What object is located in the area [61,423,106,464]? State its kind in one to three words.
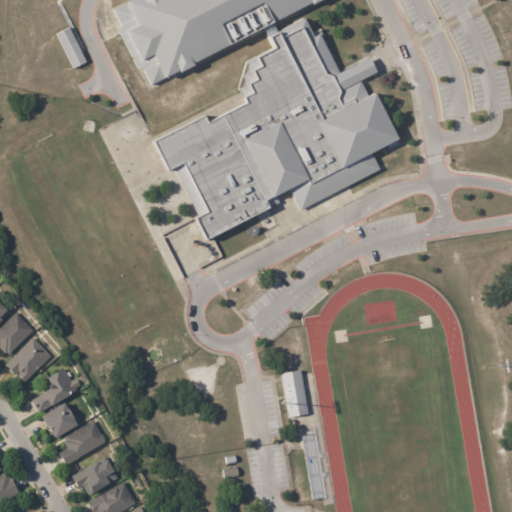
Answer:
house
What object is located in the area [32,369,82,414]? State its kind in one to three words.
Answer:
house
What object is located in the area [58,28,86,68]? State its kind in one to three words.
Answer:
shed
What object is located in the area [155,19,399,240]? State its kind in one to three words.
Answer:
building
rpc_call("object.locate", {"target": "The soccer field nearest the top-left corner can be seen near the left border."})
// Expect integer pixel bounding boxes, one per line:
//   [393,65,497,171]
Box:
[20,128,170,346]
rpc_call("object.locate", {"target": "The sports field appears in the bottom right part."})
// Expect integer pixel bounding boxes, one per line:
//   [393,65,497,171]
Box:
[326,288,475,512]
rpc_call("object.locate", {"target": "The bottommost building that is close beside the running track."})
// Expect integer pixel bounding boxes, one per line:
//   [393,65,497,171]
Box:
[282,370,309,418]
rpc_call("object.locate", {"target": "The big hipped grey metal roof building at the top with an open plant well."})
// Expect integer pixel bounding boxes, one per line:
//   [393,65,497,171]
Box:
[113,0,322,84]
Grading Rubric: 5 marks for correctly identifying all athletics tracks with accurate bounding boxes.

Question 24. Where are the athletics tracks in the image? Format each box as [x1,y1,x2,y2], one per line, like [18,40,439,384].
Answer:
[304,272,492,512]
